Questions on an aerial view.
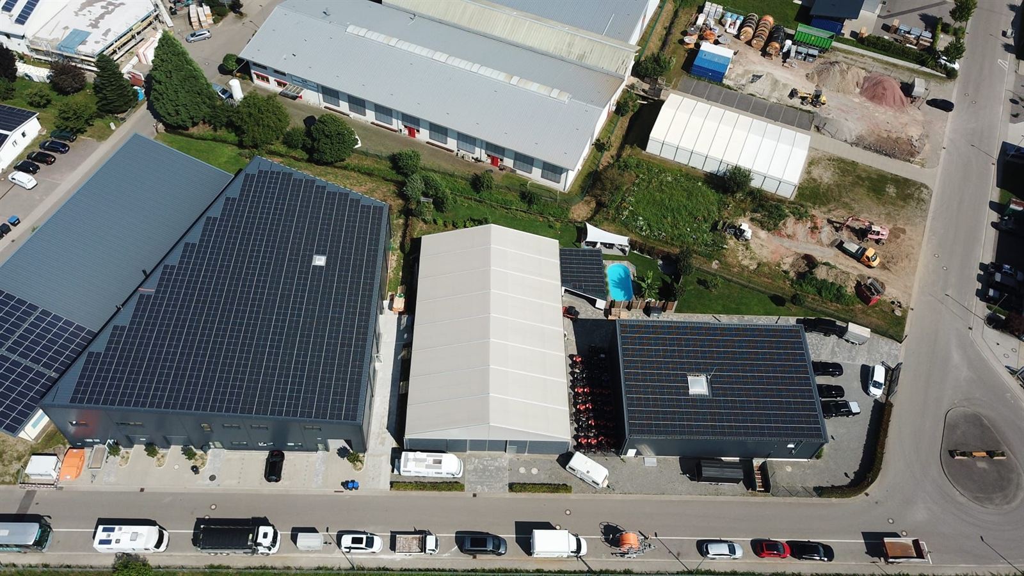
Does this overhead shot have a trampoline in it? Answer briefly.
Yes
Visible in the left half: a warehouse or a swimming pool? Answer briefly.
warehouse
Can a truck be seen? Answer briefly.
Yes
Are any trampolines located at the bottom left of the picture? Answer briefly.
No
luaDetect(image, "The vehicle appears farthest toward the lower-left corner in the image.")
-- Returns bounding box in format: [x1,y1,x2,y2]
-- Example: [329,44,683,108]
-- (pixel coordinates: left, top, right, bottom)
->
[0,521,54,554]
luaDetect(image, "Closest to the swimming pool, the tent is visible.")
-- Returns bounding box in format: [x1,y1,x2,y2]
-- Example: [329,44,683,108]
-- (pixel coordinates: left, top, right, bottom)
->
[645,94,811,201]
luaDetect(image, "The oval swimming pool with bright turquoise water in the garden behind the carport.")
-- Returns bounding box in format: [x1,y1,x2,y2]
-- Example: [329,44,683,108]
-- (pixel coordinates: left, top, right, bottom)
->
[606,260,636,298]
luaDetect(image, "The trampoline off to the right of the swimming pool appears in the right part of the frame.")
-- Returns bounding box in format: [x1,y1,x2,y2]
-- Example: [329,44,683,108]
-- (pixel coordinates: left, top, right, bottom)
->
[656,246,685,275]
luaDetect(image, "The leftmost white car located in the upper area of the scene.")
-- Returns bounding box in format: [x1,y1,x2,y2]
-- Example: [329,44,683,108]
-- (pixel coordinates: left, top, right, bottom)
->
[6,167,37,190]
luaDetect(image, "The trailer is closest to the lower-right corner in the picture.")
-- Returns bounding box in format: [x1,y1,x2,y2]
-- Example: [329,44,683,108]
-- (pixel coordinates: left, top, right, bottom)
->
[882,535,935,559]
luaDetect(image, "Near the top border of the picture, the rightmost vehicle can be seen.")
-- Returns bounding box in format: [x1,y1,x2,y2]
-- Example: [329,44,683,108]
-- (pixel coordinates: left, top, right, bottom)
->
[1006,24,1021,39]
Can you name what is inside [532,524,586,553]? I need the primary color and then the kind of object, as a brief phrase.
white van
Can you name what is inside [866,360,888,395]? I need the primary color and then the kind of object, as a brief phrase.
white car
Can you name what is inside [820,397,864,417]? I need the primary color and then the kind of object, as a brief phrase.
black vehicle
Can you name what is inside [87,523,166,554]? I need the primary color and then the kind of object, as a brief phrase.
white camper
